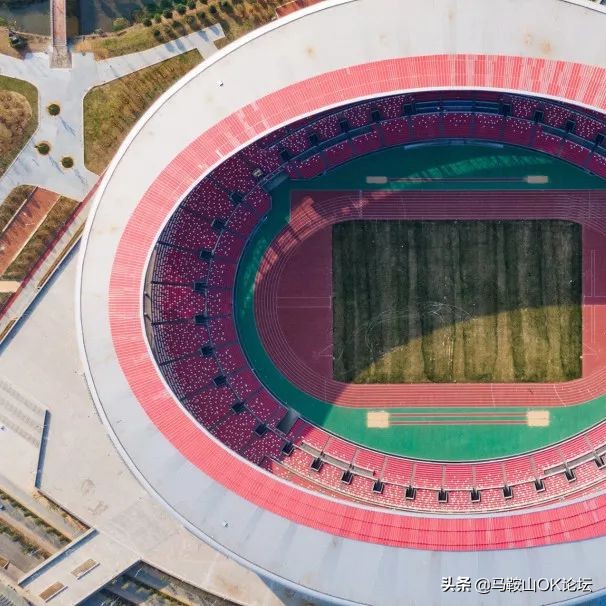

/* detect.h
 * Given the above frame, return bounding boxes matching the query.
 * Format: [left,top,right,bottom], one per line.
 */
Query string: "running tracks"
[254,191,606,408]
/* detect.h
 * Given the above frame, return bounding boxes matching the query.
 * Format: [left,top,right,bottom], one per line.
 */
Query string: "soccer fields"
[333,220,582,383]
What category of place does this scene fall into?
sports ground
